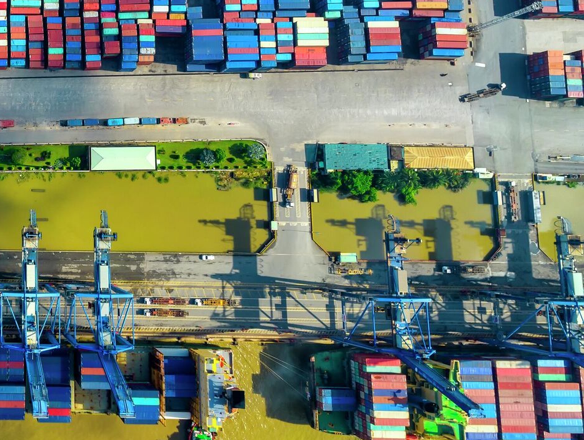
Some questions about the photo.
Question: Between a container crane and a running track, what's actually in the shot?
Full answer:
Looking from above, you can make out a container crane.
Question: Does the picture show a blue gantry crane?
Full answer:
Yes, there is a blue gantry crane in the image.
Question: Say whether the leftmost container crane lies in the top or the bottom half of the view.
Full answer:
The leftmost container crane sits in the bottom half of the picture.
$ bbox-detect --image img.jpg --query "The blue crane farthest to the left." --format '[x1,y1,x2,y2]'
[0,207,66,429]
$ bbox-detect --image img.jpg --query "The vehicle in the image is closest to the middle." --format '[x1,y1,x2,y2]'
[286,163,299,209]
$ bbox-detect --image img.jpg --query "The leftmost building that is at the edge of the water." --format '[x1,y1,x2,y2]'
[88,144,161,171]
